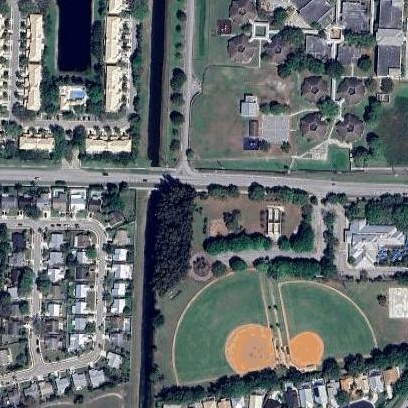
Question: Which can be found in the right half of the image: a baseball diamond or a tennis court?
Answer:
baseball diamond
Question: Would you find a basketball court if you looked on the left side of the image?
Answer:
No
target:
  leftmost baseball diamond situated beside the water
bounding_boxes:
[173,269,279,383]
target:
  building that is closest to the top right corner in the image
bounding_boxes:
[380,0,403,28]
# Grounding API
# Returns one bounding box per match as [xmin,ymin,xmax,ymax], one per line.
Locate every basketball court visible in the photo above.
[389,288,408,317]
[263,115,288,141]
